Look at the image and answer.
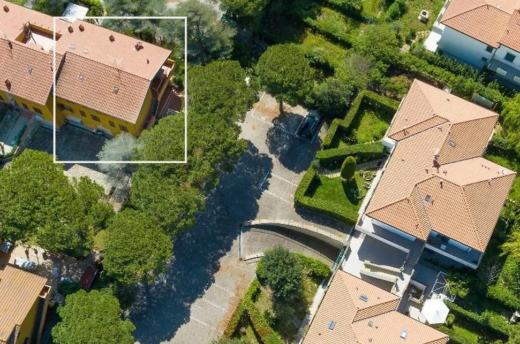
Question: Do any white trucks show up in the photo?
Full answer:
No, I find no white truck anywhere in the image.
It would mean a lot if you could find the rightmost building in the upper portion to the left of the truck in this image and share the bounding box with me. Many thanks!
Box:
[54,18,180,140]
